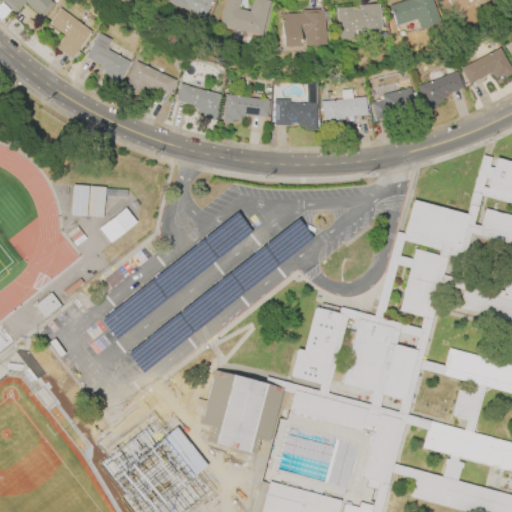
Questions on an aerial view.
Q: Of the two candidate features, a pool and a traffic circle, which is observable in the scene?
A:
pool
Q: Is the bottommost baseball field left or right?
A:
left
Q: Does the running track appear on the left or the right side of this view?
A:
left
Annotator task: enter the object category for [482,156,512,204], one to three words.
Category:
building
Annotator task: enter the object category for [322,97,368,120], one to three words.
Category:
house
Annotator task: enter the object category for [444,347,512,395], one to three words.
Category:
building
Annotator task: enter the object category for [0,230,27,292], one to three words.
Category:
sports field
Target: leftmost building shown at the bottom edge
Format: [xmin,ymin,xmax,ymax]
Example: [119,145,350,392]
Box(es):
[102,424,226,512]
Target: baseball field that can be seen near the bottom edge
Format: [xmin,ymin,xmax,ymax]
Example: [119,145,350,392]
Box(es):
[0,376,116,512]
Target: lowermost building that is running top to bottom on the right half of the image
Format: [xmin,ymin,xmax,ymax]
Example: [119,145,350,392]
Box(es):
[364,412,408,512]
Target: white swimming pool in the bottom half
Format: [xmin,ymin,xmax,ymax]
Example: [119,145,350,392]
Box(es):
[264,412,378,506]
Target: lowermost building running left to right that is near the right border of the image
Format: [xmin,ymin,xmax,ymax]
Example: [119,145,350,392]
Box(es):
[410,468,512,512]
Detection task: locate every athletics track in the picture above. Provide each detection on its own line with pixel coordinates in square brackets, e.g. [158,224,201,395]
[0,145,80,320]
